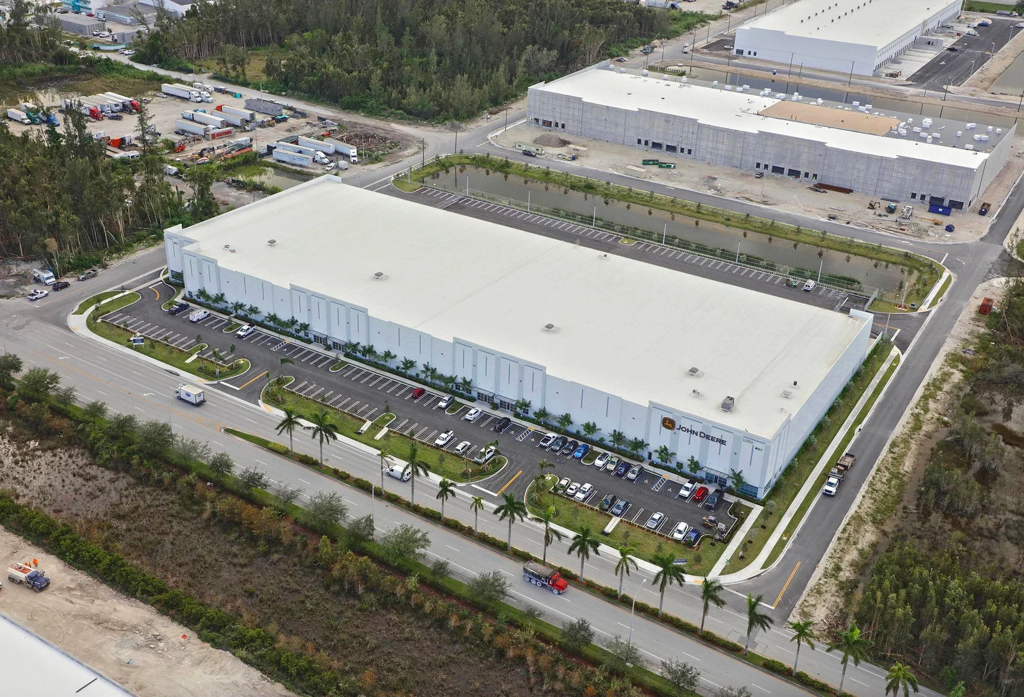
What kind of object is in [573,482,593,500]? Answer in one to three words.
car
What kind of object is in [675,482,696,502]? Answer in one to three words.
vehicle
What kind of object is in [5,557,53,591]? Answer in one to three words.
truck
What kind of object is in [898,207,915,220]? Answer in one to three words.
vehicle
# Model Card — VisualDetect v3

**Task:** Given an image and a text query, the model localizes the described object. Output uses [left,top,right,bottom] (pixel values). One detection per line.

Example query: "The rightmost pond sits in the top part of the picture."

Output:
[431,167,900,289]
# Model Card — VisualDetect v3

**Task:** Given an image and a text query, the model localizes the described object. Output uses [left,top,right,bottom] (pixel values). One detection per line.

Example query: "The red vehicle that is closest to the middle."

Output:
[408,387,426,399]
